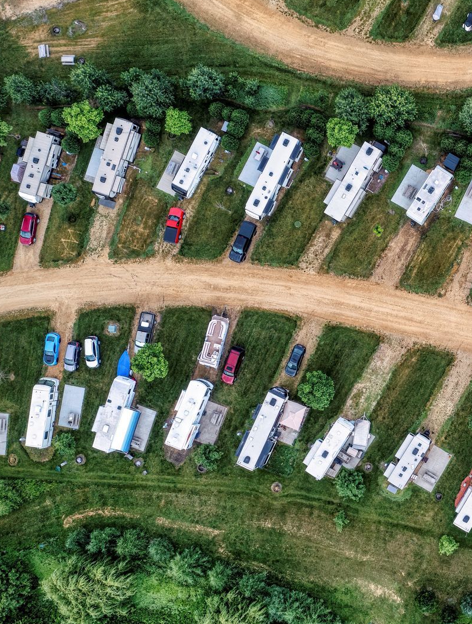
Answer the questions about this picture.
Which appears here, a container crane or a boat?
boat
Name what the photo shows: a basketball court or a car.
car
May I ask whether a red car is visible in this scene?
Yes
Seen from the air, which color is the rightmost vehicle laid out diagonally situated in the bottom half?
white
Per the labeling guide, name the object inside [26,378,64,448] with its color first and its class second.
white camper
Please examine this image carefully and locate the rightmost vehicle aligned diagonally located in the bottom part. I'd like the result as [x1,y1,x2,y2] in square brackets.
[383,424,434,489]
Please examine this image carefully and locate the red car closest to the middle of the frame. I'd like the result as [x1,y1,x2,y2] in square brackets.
[222,347,245,385]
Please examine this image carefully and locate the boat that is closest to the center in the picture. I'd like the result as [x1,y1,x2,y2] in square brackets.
[198,310,228,369]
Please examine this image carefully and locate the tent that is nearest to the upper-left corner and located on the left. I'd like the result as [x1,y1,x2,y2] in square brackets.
[6,162,27,182]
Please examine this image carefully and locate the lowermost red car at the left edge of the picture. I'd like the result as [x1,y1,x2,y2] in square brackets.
[19,214,39,245]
